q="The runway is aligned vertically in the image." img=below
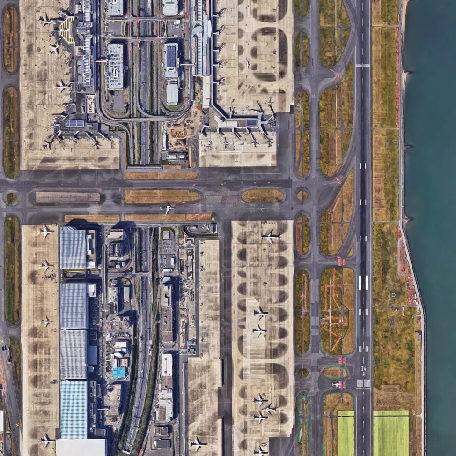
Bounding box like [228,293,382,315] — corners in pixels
[356,0,372,456]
